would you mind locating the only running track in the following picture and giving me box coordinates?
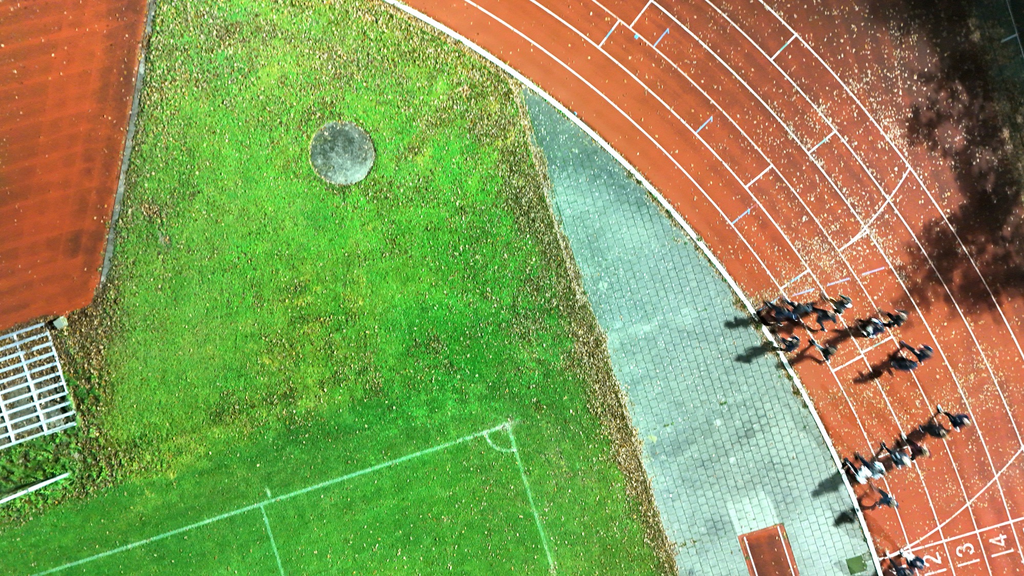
[396,0,1024,576]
